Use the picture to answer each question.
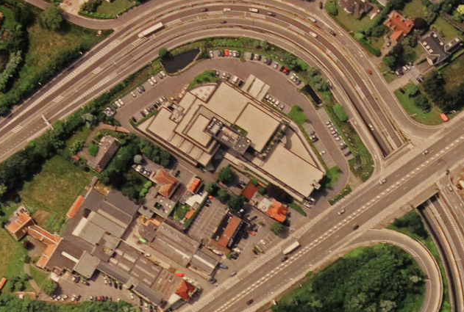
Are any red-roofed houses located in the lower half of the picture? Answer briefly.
Yes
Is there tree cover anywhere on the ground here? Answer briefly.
Yes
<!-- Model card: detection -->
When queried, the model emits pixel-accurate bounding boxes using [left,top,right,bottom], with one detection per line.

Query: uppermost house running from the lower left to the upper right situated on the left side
[85,136,119,172]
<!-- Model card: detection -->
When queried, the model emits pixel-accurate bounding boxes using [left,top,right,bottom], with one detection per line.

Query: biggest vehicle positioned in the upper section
[138,20,165,40]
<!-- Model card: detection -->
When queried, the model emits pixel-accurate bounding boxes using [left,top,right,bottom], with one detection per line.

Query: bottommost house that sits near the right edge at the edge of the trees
[416,33,463,68]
